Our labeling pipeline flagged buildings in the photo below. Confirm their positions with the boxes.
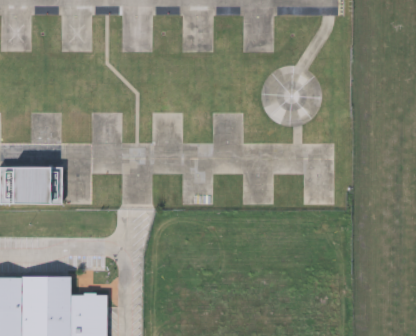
[0,166,63,205]
[0,277,72,336]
